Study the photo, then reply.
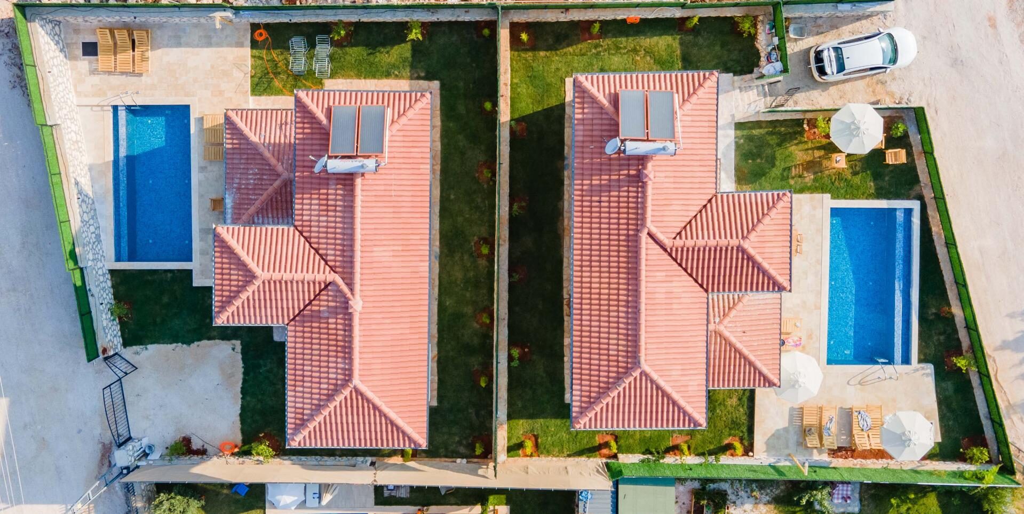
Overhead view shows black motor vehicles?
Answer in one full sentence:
No, I can see no black motor vehicle in this picture.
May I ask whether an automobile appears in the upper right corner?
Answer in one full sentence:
Yes, an automobile is visible in the upper right corner.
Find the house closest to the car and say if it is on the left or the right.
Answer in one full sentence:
The house closest to the car is on the right side of the image.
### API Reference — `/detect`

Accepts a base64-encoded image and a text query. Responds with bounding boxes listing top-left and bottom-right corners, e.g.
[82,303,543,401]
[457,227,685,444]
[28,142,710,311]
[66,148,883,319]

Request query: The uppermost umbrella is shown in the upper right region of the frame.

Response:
[832,103,882,153]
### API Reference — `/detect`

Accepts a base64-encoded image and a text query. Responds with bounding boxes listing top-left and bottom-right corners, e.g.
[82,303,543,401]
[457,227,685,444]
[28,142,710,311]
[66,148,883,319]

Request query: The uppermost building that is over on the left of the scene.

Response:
[209,87,432,452]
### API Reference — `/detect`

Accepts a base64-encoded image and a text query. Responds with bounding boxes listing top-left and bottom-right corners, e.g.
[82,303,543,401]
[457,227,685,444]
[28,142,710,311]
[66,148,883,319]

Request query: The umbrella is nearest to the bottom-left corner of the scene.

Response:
[266,483,303,514]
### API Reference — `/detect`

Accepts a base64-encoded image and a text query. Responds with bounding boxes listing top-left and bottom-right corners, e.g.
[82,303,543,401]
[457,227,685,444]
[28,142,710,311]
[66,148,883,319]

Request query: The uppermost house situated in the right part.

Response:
[569,69,796,433]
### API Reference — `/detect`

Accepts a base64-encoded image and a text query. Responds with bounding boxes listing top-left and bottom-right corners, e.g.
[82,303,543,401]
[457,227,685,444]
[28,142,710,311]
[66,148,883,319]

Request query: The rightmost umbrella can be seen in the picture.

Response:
[879,411,933,460]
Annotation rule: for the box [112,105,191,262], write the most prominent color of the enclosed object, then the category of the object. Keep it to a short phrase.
blue swimming pool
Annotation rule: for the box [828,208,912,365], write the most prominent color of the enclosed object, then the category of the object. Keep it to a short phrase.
blue swimming pool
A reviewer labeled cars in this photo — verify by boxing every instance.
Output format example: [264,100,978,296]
[809,24,915,79]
